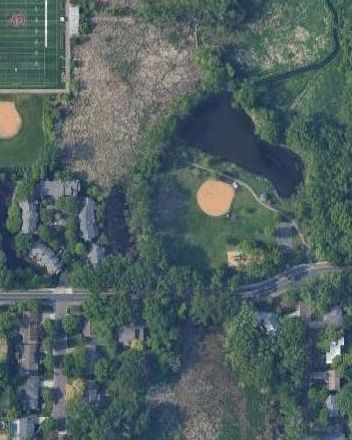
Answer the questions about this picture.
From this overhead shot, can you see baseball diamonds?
Yes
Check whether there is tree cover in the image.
Yes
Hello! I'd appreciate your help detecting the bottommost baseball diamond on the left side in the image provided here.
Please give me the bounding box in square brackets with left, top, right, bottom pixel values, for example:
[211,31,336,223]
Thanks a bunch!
[0,94,48,168]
